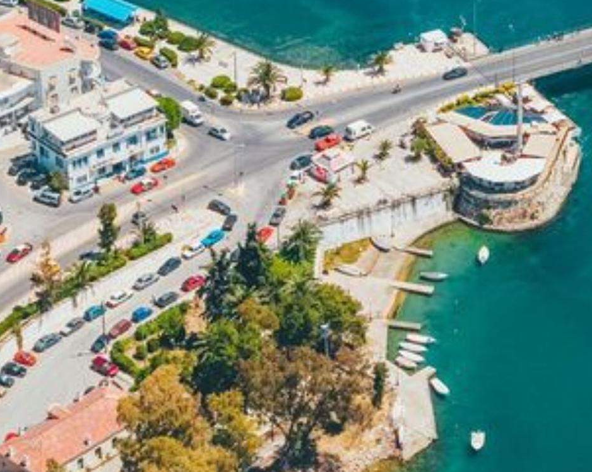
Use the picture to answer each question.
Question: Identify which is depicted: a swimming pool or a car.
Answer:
car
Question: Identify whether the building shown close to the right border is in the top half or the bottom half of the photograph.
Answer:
top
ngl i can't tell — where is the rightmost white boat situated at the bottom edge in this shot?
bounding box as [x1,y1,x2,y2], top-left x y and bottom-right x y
[471,430,485,451]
